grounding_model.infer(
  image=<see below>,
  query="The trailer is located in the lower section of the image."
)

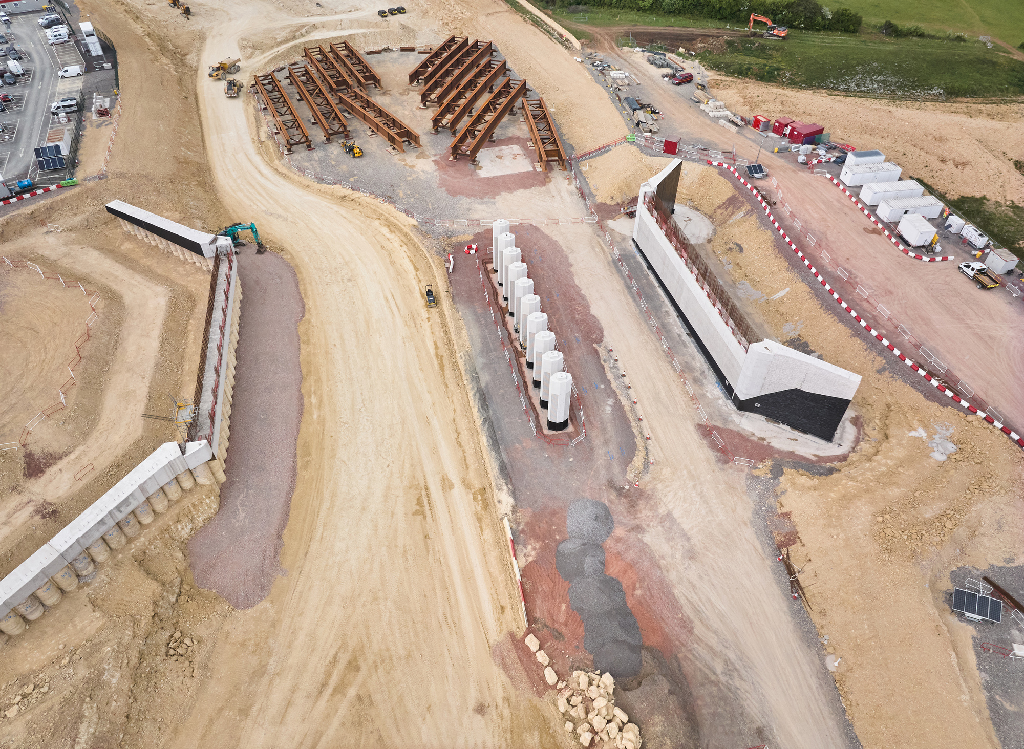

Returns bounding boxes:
[945,574,1002,628]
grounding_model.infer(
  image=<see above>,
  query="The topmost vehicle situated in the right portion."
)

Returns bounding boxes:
[748,11,790,42]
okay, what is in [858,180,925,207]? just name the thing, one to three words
building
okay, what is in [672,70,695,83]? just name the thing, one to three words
vehicle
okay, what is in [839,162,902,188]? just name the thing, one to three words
building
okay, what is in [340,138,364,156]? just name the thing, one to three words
work vehicle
